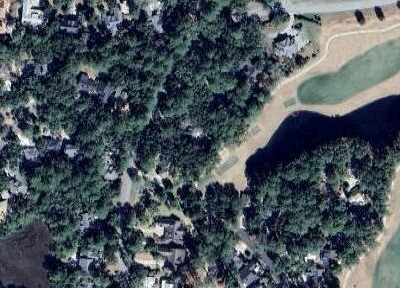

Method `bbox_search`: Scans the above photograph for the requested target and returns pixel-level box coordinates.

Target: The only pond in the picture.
[245,94,400,185]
